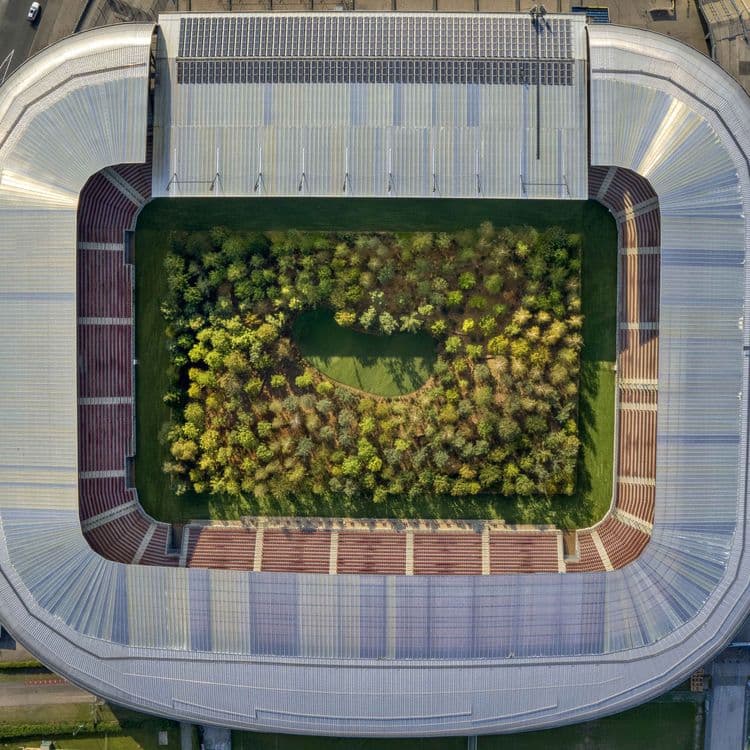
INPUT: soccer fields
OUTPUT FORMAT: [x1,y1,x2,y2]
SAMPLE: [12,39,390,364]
[135,195,616,520]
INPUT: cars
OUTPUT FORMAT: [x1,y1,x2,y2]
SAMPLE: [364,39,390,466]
[26,1,39,21]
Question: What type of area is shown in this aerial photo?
sports ground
